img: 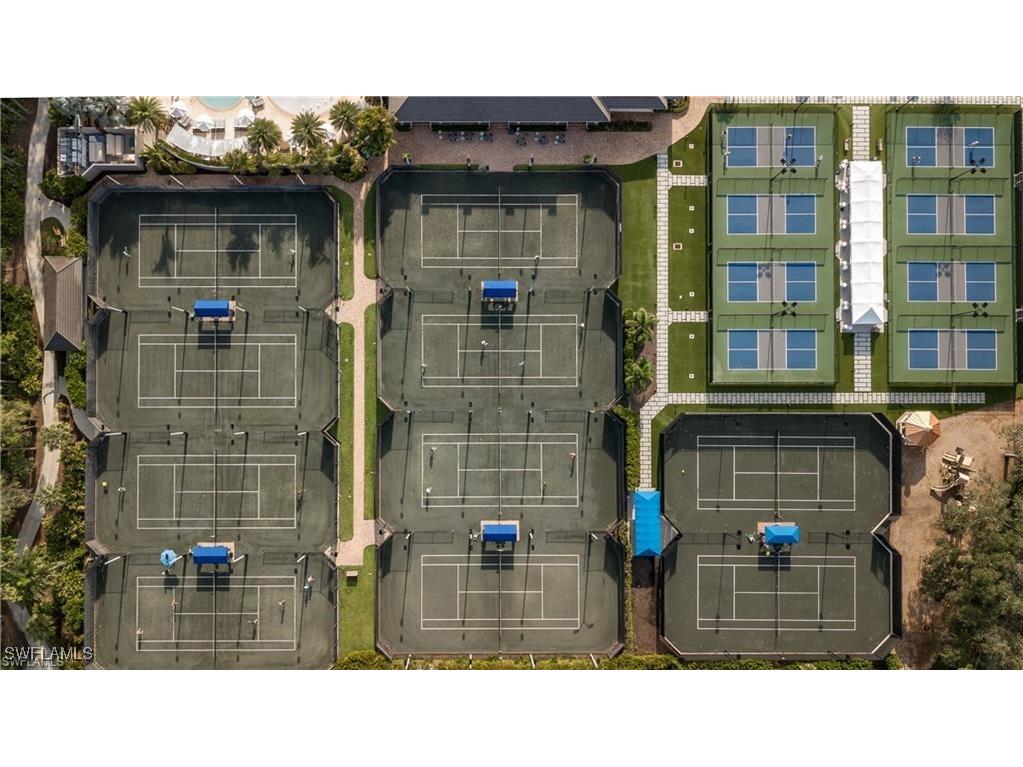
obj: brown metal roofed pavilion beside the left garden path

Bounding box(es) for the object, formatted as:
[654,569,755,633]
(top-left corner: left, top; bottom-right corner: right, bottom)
[45,256,87,350]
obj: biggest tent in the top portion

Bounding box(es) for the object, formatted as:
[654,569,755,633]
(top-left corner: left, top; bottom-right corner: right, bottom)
[846,160,884,325]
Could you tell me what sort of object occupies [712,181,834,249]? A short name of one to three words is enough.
sports court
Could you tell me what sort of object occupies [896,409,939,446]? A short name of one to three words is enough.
gazebo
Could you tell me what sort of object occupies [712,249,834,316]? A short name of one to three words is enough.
sports court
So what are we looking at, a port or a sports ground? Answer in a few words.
sports ground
